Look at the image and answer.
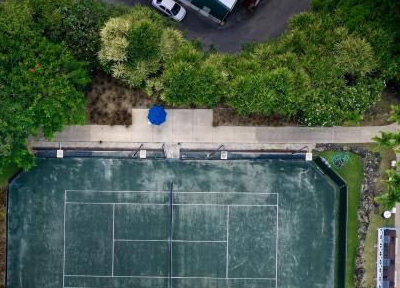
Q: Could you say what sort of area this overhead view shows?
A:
sports ground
